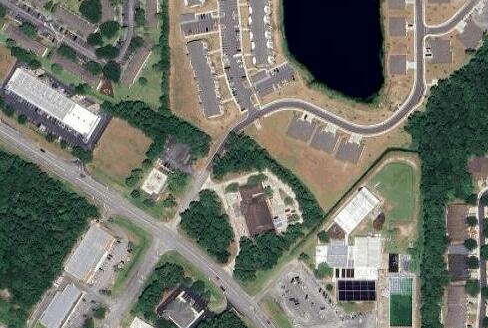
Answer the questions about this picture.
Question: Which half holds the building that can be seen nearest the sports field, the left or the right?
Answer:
right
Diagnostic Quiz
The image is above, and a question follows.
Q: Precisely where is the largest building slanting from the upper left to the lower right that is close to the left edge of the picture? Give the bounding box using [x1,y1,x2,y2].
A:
[5,64,101,141]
